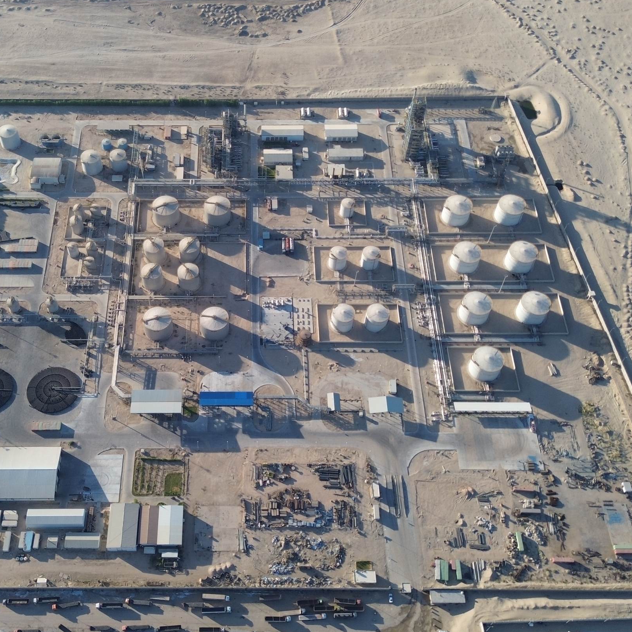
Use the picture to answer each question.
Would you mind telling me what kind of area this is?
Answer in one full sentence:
What you see here is an industrial area.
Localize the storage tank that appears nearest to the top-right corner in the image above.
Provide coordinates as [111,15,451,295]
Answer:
[493,193,527,230]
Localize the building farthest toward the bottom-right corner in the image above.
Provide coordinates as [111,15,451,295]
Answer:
[429,589,465,607]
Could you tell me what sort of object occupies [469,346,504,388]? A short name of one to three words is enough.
storage tank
